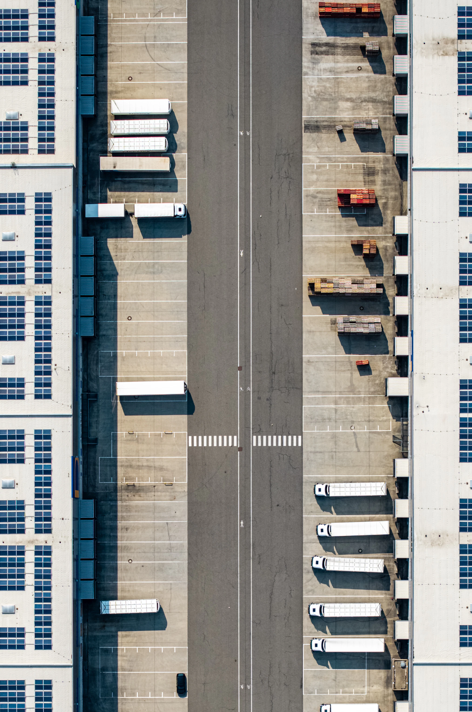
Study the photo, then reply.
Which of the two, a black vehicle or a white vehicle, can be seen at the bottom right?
white vehicle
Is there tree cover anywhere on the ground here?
No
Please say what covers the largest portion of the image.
paved ground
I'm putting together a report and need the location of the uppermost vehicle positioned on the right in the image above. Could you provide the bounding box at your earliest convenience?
[313,483,386,498]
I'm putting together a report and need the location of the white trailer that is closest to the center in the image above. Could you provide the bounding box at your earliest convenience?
[116,380,188,396]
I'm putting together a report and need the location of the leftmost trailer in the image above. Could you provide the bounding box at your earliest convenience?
[85,204,127,219]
